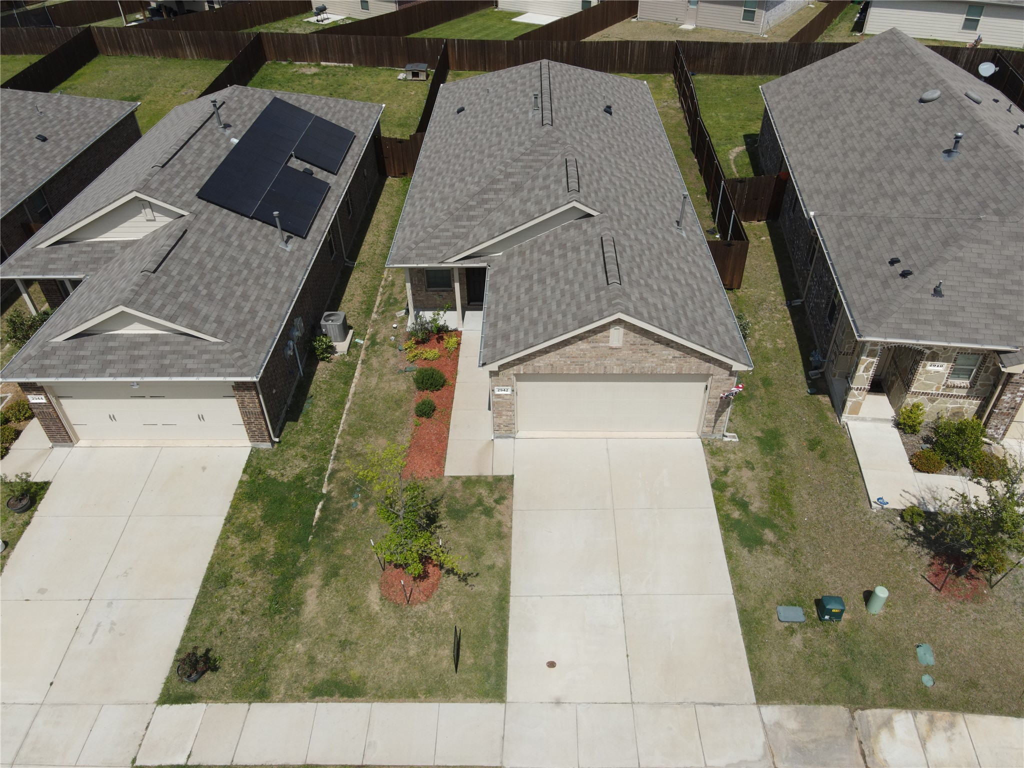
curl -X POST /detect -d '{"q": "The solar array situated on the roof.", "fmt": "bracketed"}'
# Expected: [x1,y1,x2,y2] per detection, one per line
[197,94,359,237]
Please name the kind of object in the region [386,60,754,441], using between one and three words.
house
